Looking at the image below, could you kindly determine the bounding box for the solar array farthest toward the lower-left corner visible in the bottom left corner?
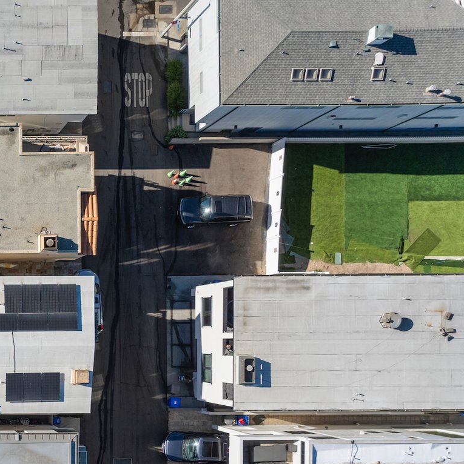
[6,374,59,401]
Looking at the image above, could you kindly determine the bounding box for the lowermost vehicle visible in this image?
[160,431,226,463]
